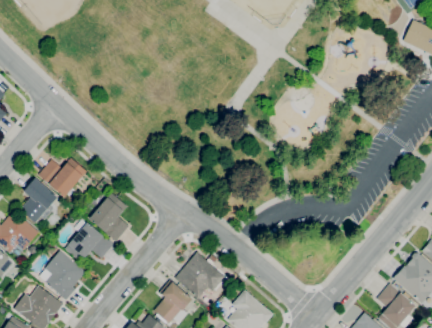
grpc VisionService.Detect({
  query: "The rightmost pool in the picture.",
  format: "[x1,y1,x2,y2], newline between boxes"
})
[58,223,74,245]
